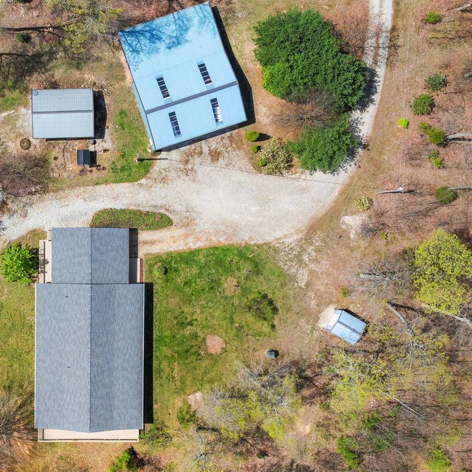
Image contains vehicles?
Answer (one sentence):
No, the scene contains no vehicle.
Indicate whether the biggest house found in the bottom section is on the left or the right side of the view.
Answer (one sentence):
You can find the biggest house found in the bottom section on the left side of the picture.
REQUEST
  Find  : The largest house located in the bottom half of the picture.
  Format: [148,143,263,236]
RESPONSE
[34,227,145,433]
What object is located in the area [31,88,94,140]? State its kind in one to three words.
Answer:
shed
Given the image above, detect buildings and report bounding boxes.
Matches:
[323,310,365,344]
[76,150,90,165]
[117,2,247,151]
[34,227,145,433]
[31,88,94,140]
